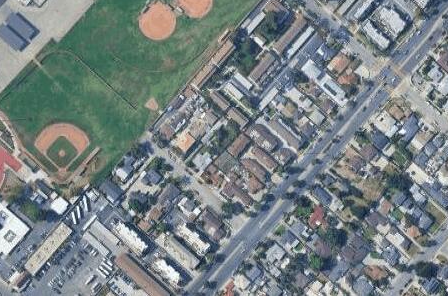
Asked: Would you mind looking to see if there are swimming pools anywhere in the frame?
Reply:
No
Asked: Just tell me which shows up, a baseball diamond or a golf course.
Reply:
baseball diamond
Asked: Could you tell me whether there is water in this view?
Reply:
No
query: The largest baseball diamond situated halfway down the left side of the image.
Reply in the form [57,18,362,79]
[18,123,101,186]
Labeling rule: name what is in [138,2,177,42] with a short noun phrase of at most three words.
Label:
baseball field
